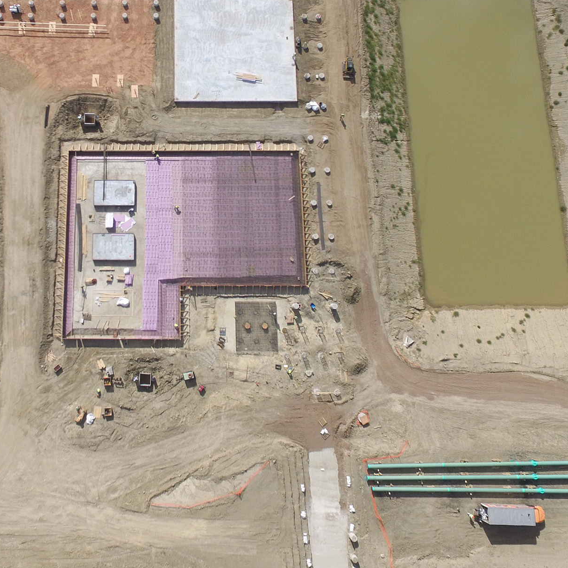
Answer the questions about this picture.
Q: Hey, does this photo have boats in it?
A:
No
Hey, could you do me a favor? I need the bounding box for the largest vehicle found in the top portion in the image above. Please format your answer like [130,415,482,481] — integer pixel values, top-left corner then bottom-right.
[341,57,355,80]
